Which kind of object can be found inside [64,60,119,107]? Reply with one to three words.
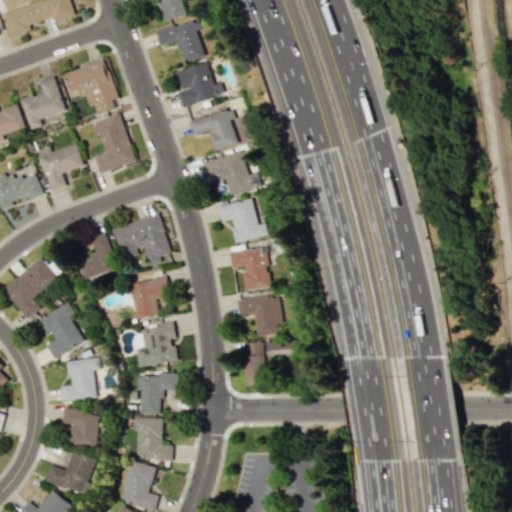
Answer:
house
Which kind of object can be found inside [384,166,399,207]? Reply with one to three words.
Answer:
vehicle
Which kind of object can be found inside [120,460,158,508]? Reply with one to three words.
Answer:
house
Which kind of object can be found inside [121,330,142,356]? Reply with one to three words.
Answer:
swimming pool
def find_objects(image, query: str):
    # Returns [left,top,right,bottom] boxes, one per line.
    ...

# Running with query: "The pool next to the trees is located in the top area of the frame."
[219,60,240,91]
